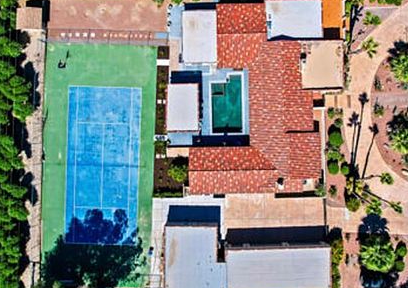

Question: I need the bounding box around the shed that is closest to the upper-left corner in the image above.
[17,7,49,32]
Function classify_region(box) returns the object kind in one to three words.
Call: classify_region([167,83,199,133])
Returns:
building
